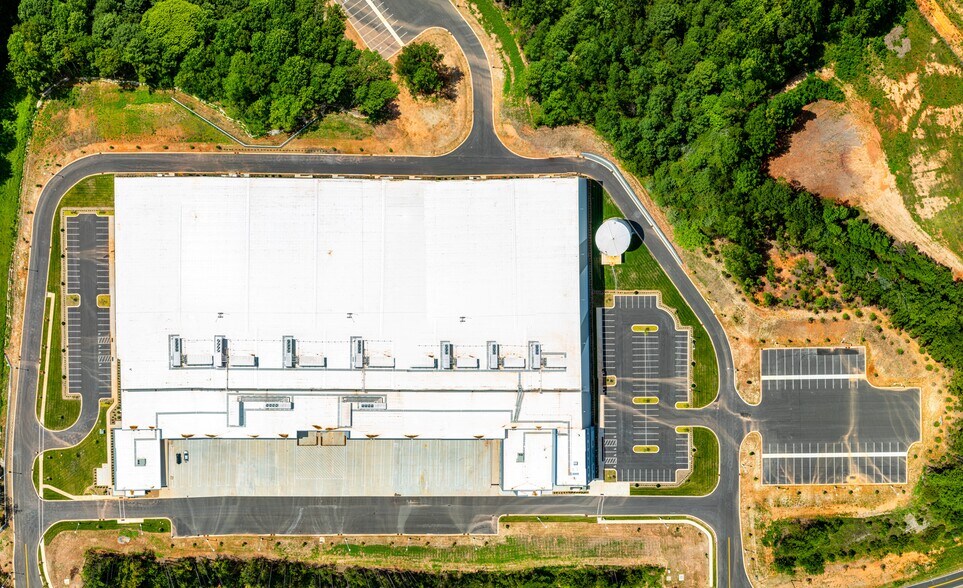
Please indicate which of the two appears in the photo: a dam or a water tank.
water tank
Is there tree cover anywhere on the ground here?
Yes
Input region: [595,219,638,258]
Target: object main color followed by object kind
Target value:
white water tank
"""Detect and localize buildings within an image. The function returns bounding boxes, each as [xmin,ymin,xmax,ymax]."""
[115,177,590,440]
[601,255,624,265]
